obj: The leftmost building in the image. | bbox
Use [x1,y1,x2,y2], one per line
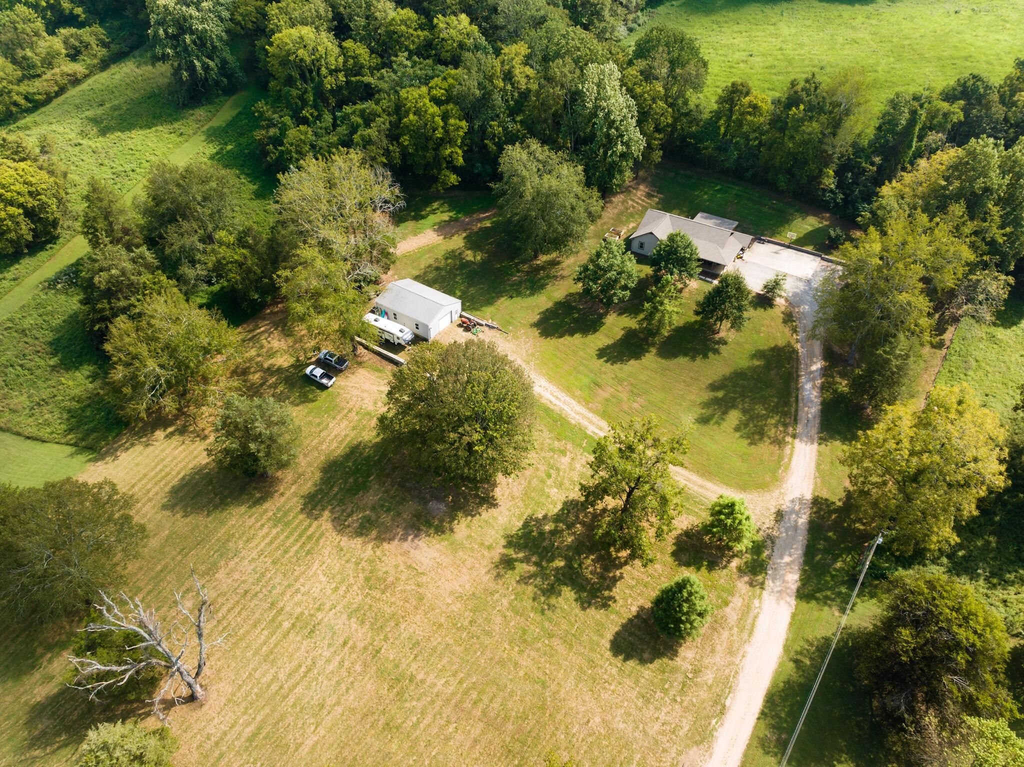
[374,278,462,341]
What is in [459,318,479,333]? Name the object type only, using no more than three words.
work vehicle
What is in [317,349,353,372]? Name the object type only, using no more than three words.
truck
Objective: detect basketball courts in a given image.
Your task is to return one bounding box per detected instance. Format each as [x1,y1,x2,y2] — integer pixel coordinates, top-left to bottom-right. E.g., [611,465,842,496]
[744,242,819,280]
